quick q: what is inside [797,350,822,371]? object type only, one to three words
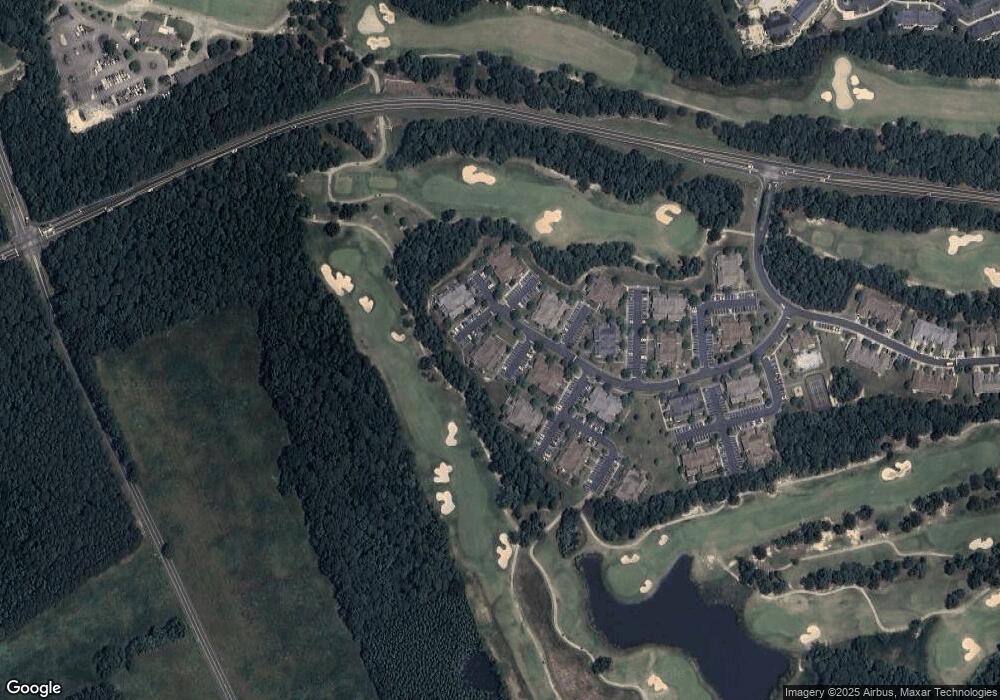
swimming pool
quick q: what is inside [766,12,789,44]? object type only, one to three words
building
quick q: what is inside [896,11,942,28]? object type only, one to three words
building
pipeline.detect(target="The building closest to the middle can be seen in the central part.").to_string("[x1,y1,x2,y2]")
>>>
[466,336,510,379]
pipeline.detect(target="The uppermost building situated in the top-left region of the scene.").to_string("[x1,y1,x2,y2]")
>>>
[138,19,180,51]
